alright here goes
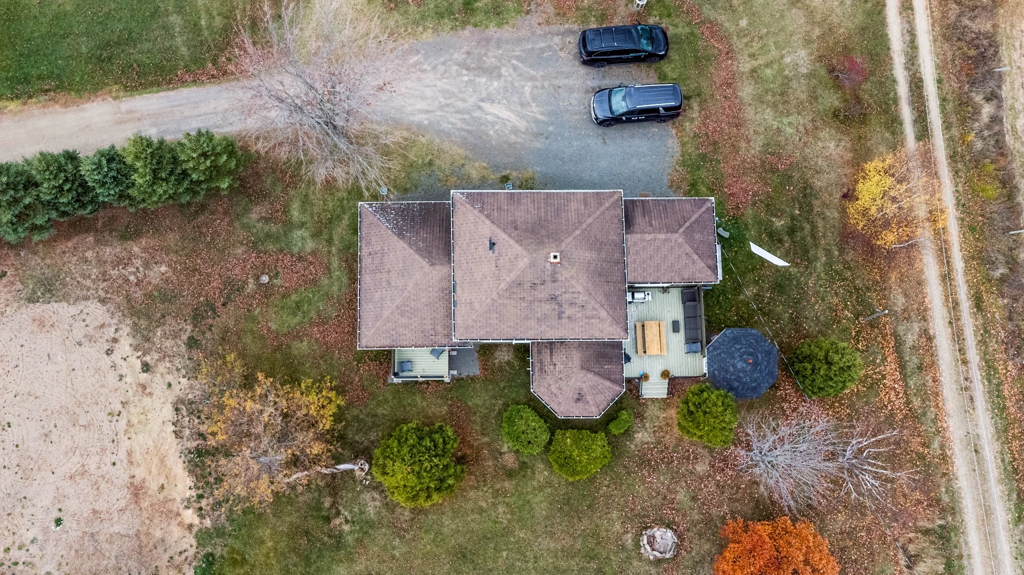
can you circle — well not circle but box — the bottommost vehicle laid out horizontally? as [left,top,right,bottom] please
[590,81,683,126]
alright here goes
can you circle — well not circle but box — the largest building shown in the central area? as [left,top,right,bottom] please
[356,188,721,421]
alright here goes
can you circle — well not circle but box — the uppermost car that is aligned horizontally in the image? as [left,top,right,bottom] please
[582,21,671,68]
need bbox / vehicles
[582,21,671,68]
[590,81,683,126]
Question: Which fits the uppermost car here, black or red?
black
